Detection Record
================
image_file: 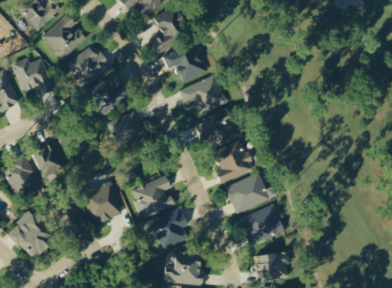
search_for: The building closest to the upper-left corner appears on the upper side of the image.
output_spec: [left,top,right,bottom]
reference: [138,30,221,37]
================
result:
[18,0,62,30]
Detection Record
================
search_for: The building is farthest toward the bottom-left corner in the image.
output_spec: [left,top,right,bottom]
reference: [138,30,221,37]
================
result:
[8,212,50,256]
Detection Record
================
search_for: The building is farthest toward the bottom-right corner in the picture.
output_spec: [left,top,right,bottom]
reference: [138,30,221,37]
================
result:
[256,249,290,282]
